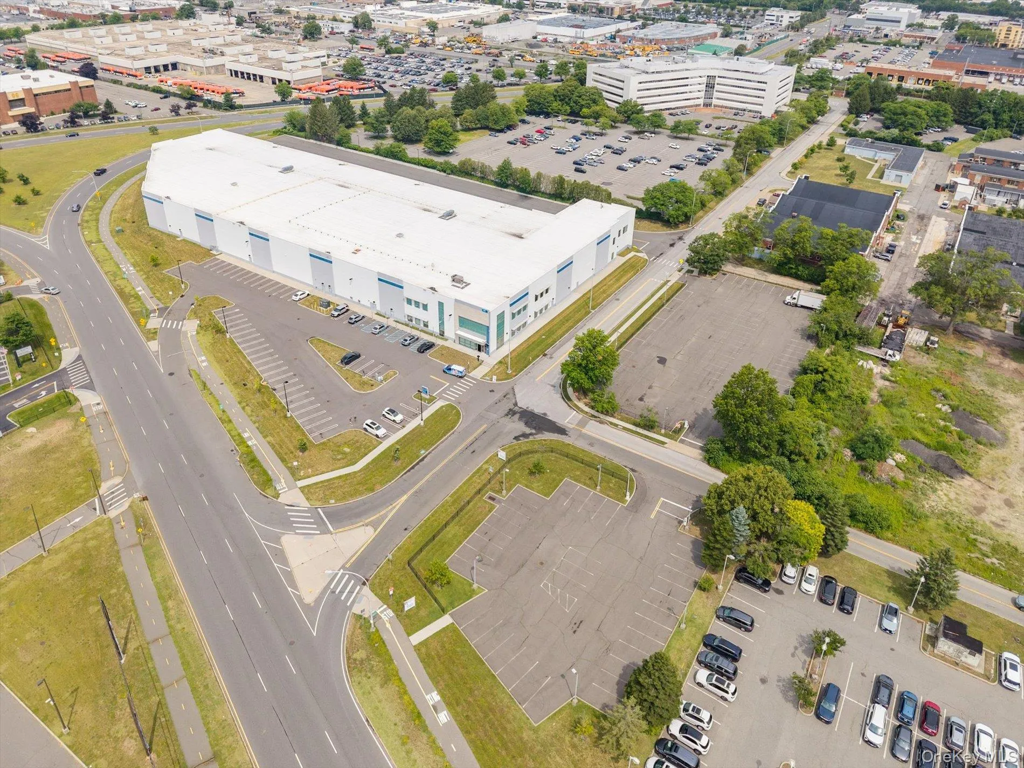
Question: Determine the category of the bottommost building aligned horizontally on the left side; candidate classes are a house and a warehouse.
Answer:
warehouse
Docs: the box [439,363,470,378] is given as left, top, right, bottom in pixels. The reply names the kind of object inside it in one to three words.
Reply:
vehicle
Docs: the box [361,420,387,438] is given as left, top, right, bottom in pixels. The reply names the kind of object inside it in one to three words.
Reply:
car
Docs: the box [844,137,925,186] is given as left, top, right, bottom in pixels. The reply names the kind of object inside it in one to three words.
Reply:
building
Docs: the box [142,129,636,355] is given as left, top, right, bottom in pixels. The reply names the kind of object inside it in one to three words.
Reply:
warehouse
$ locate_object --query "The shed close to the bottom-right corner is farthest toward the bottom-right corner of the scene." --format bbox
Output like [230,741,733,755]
[936,614,984,672]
